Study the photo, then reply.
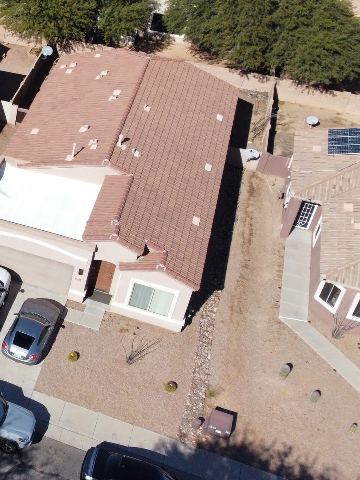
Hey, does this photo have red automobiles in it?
No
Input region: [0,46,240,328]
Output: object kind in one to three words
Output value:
house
